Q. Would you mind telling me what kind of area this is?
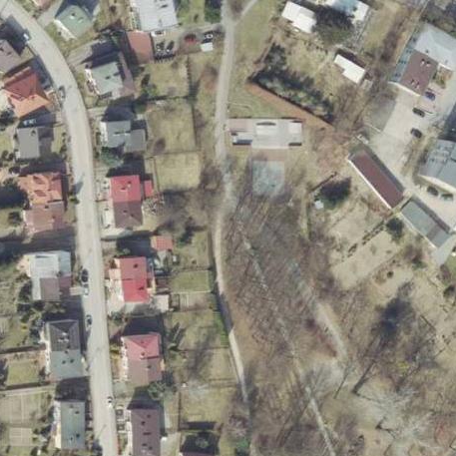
residential area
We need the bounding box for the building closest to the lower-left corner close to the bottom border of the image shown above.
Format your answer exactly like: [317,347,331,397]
[52,400,85,449]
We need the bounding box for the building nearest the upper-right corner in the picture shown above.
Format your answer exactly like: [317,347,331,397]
[408,23,456,71]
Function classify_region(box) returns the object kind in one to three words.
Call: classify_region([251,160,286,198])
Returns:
basketball court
